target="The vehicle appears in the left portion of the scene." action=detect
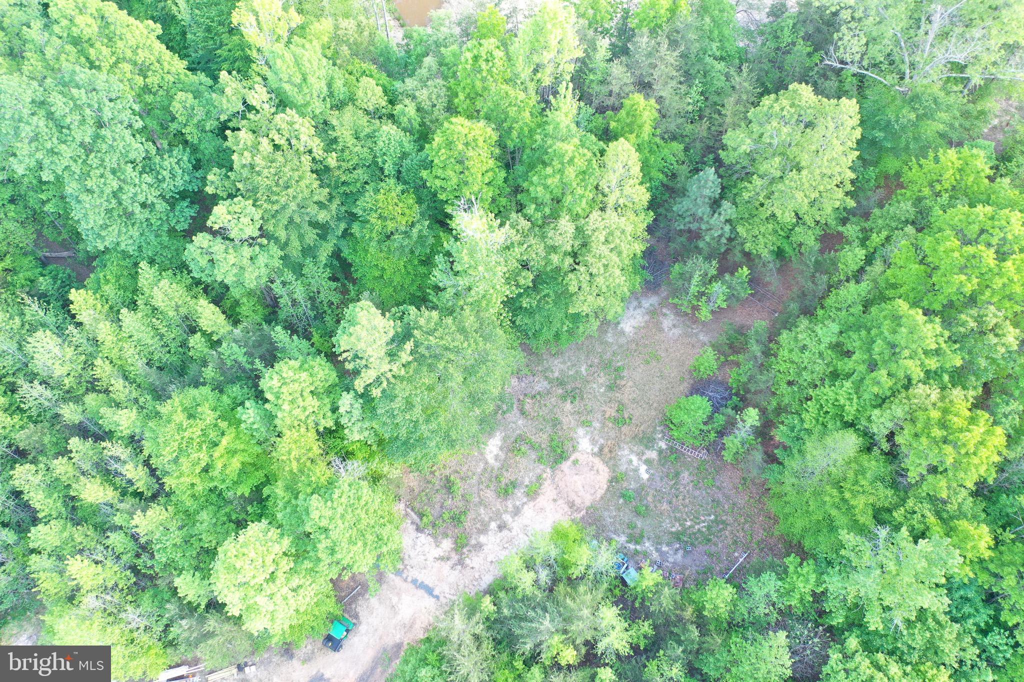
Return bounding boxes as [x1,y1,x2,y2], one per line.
[322,616,357,655]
